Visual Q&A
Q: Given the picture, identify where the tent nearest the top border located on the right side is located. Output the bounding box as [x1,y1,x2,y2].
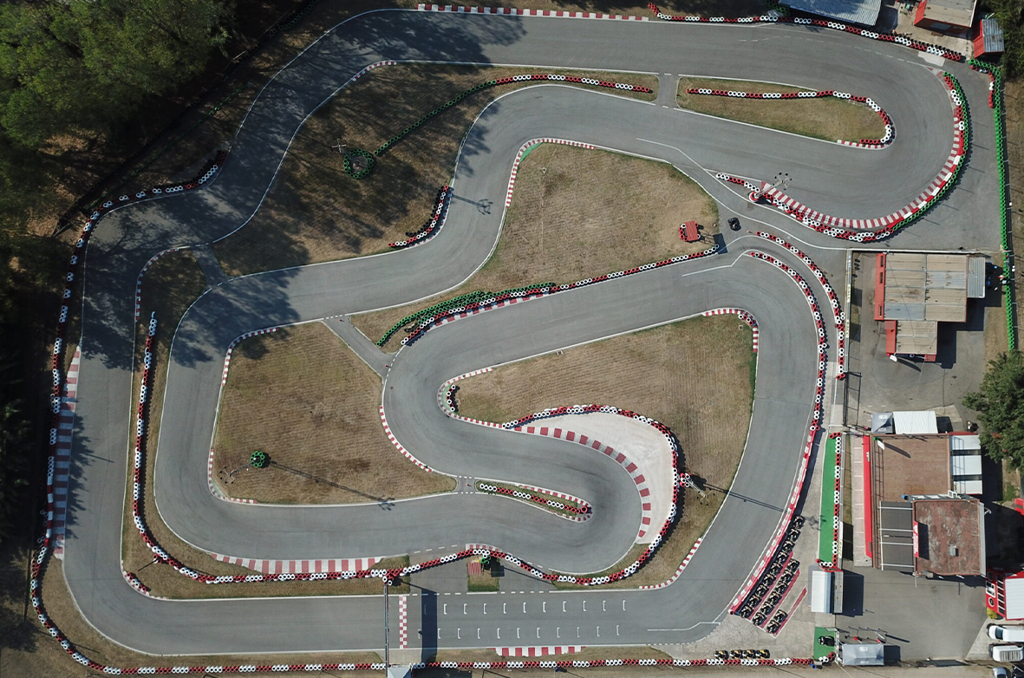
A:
[864,411,893,433]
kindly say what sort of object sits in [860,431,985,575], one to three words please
building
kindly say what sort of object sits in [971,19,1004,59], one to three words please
building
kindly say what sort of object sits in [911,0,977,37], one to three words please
shed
